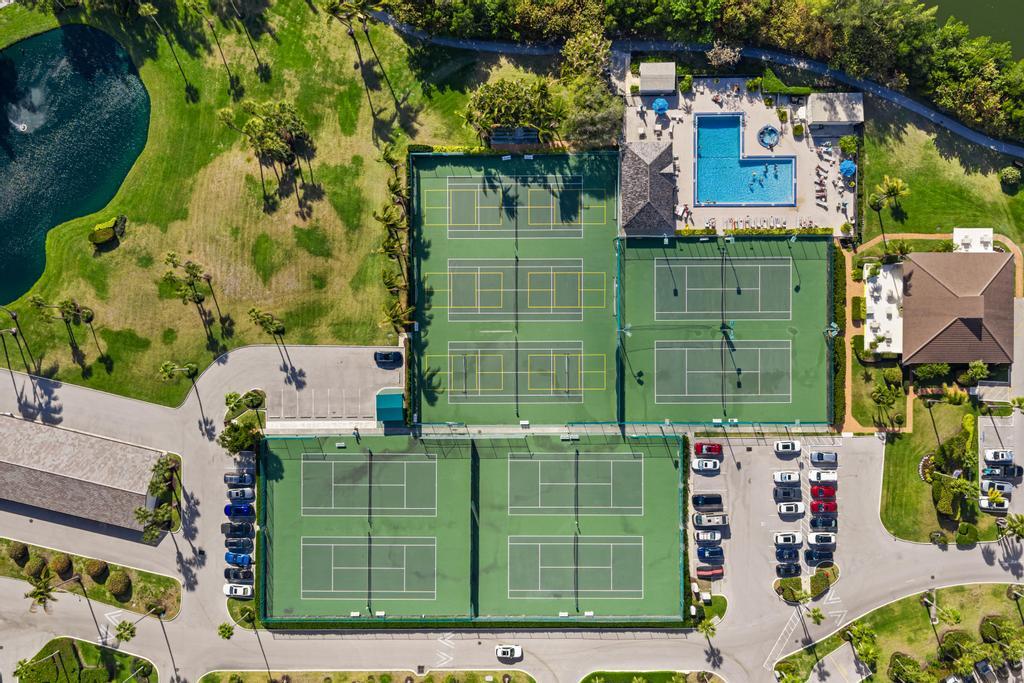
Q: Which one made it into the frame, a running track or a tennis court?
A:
tennis court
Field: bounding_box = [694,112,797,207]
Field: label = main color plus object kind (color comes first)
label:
blue swimming pool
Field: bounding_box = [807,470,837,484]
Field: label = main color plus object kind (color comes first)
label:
white car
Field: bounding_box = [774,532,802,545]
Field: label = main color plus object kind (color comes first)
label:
white vehicle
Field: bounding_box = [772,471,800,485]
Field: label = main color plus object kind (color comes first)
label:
white car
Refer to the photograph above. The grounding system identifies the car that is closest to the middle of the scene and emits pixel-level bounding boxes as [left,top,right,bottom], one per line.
[375,351,402,365]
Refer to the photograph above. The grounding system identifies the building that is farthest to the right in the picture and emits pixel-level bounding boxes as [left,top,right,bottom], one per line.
[897,252,1014,384]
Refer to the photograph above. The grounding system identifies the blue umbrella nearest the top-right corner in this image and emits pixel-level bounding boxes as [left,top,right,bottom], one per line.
[838,160,855,177]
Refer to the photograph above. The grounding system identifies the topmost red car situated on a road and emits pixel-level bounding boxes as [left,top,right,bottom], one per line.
[694,443,722,457]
